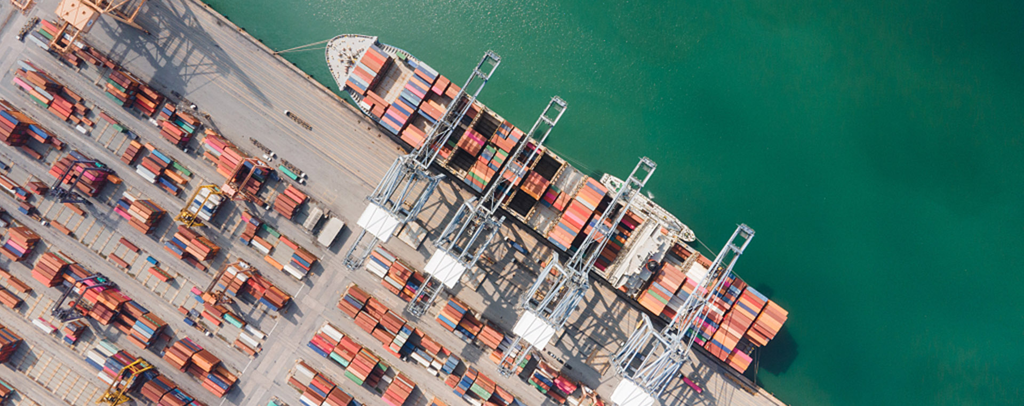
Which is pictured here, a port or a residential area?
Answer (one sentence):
This image shows a port.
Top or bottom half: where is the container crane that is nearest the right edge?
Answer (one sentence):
You can find the container crane that is nearest the right edge in the bottom half.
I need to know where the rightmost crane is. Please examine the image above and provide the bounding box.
[607,222,756,406]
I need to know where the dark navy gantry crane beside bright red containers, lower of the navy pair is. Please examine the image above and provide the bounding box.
[51,273,112,321]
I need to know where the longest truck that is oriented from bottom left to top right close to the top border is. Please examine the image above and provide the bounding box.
[17,15,38,41]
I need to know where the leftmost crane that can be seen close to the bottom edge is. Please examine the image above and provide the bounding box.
[97,359,155,406]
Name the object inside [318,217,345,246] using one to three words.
shed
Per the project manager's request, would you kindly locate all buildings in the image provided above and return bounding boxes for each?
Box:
[318,217,345,246]
[304,208,324,230]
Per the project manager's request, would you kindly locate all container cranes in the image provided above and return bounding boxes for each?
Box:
[405,93,569,319]
[50,158,111,205]
[97,359,155,406]
[201,258,254,306]
[0,0,44,34]
[220,157,272,203]
[43,0,153,66]
[495,157,658,381]
[340,49,503,273]
[51,273,112,321]
[607,222,756,406]
[174,184,225,230]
